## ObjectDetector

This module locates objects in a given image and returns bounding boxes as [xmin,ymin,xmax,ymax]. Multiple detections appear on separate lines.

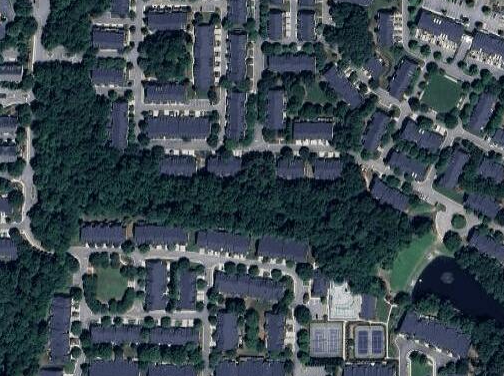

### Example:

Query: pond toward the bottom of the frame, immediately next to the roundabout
[411,254,504,331]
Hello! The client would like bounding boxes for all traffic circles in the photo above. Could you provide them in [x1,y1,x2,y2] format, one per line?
[437,199,475,242]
